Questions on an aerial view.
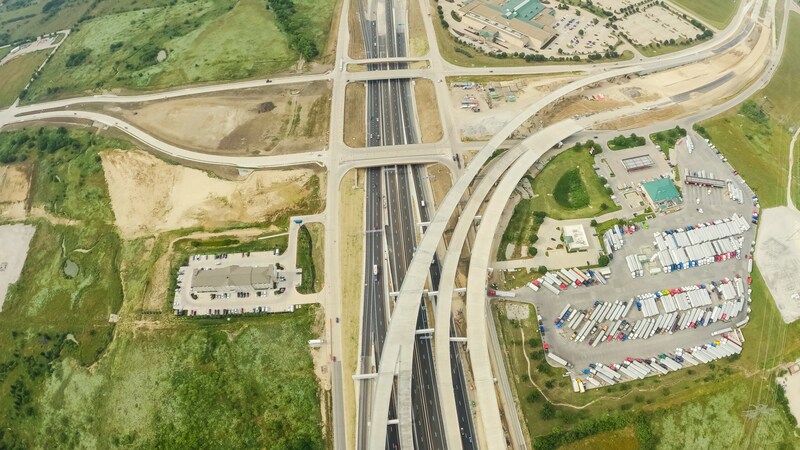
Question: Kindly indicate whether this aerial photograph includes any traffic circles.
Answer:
No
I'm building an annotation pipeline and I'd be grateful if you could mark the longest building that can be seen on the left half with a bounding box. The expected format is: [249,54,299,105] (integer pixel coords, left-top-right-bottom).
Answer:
[191,262,277,297]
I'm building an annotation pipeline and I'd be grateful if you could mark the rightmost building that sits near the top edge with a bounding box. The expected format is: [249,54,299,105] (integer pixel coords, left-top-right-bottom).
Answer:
[459,0,559,56]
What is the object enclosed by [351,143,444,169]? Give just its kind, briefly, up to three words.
overpass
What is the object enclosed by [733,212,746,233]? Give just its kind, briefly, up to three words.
vehicle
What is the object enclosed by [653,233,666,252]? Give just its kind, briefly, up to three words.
vehicle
